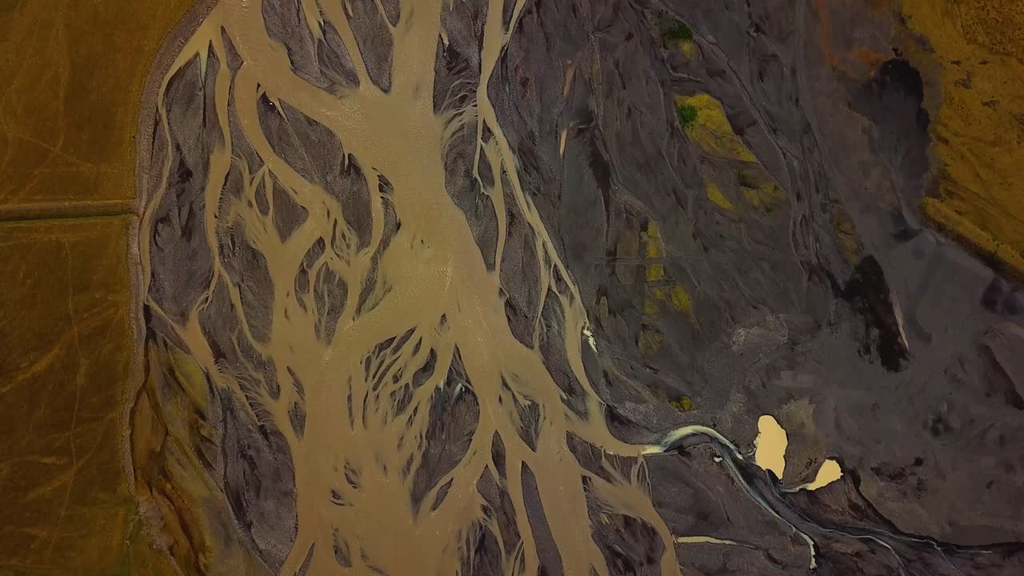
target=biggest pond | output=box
[754,414,789,480]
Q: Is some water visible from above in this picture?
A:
Yes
